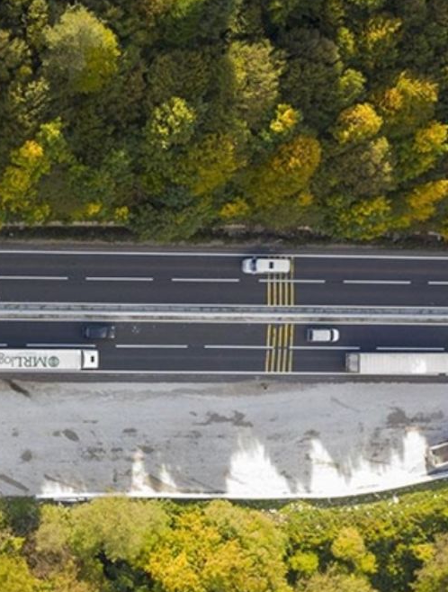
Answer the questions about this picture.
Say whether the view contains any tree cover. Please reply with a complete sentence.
Yes, the picture does contain tree cover.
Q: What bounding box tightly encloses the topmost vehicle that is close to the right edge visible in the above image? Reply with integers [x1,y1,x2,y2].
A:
[343,353,448,376]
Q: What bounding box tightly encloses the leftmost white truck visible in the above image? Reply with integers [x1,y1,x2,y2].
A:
[0,349,97,371]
